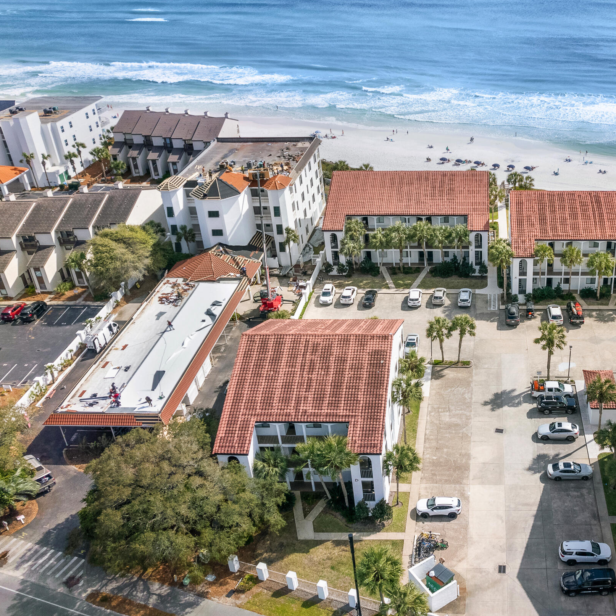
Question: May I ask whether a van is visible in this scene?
Yes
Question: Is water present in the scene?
Yes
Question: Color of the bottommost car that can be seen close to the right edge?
black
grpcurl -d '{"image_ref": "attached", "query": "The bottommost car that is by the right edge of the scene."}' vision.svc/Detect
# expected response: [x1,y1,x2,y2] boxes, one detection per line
[559,566,616,596]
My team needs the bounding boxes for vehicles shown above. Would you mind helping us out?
[547,459,593,481]
[567,300,584,322]
[504,301,520,322]
[404,332,420,354]
[79,313,119,350]
[557,537,613,565]
[548,303,563,322]
[559,566,616,596]
[408,286,423,304]
[362,287,378,304]
[20,298,51,319]
[320,281,338,302]
[529,377,575,397]
[340,284,358,302]
[416,495,462,518]
[13,459,46,499]
[534,390,578,414]
[2,300,29,319]
[525,302,534,315]
[537,419,580,440]
[432,285,446,303]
